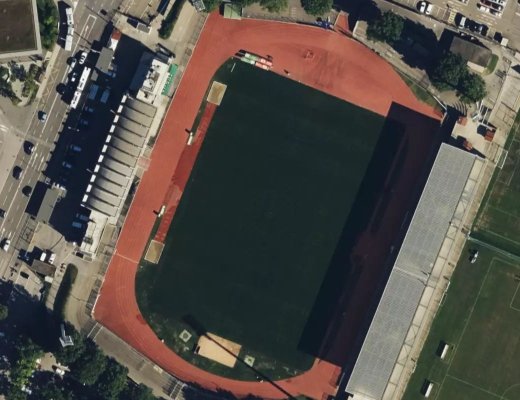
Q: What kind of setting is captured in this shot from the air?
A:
sports ground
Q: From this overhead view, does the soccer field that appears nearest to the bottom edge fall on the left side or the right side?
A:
right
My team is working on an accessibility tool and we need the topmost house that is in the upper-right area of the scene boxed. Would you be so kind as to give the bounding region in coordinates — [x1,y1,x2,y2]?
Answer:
[448,37,491,73]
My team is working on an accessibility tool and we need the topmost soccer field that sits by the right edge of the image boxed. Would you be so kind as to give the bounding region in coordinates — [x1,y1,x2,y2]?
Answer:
[470,114,520,252]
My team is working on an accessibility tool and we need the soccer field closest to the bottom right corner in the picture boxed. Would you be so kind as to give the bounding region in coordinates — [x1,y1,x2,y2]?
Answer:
[401,234,520,400]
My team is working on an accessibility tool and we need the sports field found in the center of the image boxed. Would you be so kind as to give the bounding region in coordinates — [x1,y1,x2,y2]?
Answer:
[135,57,405,381]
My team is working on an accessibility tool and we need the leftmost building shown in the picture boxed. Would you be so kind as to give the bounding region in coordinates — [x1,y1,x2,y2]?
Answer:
[0,0,43,62]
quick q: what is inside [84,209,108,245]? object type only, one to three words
building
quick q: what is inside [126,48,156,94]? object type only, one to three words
building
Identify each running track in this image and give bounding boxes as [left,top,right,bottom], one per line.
[93,11,444,400]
